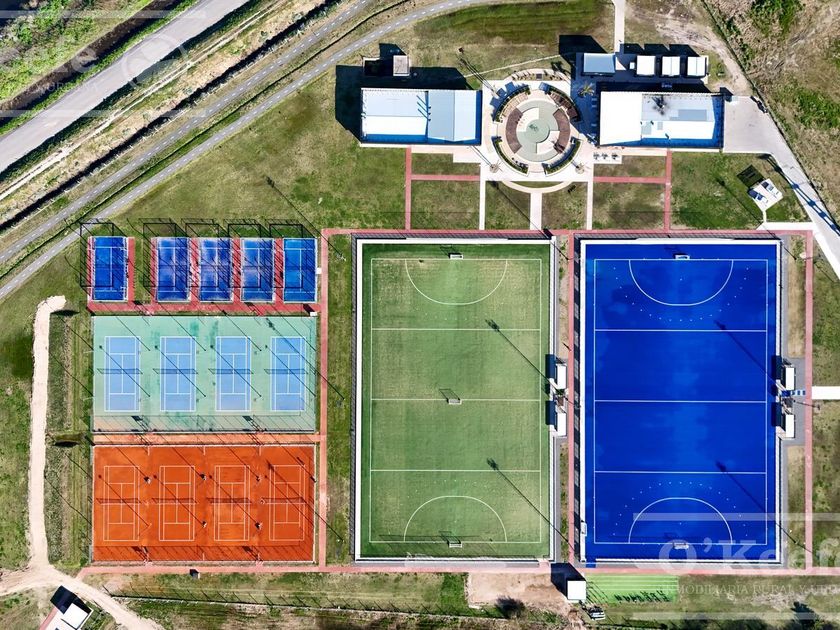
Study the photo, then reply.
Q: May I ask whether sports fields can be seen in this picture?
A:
Yes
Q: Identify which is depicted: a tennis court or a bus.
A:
tennis court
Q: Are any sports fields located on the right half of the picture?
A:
Yes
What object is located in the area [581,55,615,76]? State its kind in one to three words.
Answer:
building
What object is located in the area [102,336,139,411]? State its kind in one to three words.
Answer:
tennis court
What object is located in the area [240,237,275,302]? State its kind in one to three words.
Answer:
sports court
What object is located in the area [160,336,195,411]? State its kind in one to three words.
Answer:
tennis court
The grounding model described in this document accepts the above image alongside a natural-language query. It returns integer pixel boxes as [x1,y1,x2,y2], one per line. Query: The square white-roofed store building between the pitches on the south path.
[564,578,587,602]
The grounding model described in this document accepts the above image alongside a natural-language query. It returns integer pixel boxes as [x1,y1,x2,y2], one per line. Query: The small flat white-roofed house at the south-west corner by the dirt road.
[62,600,90,630]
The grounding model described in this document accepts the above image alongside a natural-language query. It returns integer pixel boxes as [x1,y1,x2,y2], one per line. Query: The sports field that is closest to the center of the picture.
[357,239,555,562]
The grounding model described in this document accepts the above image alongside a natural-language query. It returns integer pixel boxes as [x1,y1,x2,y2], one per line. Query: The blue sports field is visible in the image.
[581,240,780,563]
